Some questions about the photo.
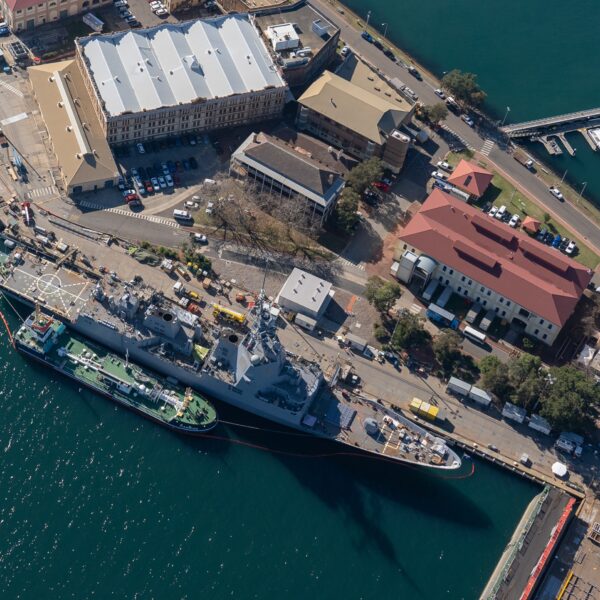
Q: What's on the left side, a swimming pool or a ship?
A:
ship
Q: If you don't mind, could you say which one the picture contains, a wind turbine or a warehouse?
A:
warehouse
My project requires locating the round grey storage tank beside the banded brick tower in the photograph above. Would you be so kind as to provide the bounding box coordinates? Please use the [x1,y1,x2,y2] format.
[400,121,430,154]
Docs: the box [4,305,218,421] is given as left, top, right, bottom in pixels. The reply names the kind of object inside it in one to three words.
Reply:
ship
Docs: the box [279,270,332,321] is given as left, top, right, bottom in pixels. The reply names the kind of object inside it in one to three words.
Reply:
shed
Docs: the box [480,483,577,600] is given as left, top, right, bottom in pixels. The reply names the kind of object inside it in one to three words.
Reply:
pier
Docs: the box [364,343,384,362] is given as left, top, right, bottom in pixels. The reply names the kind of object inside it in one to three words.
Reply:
vehicle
